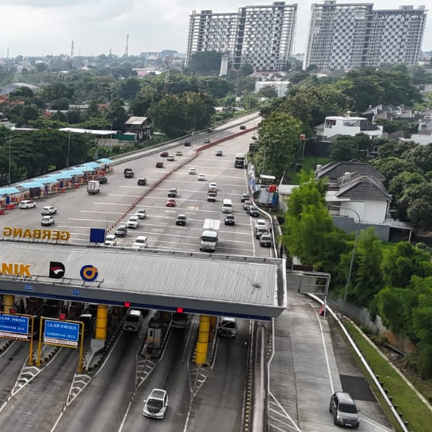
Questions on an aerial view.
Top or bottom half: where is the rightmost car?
bottom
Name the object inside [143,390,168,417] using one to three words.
car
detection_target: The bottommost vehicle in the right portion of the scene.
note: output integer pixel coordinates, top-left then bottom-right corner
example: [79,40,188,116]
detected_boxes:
[331,392,361,424]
